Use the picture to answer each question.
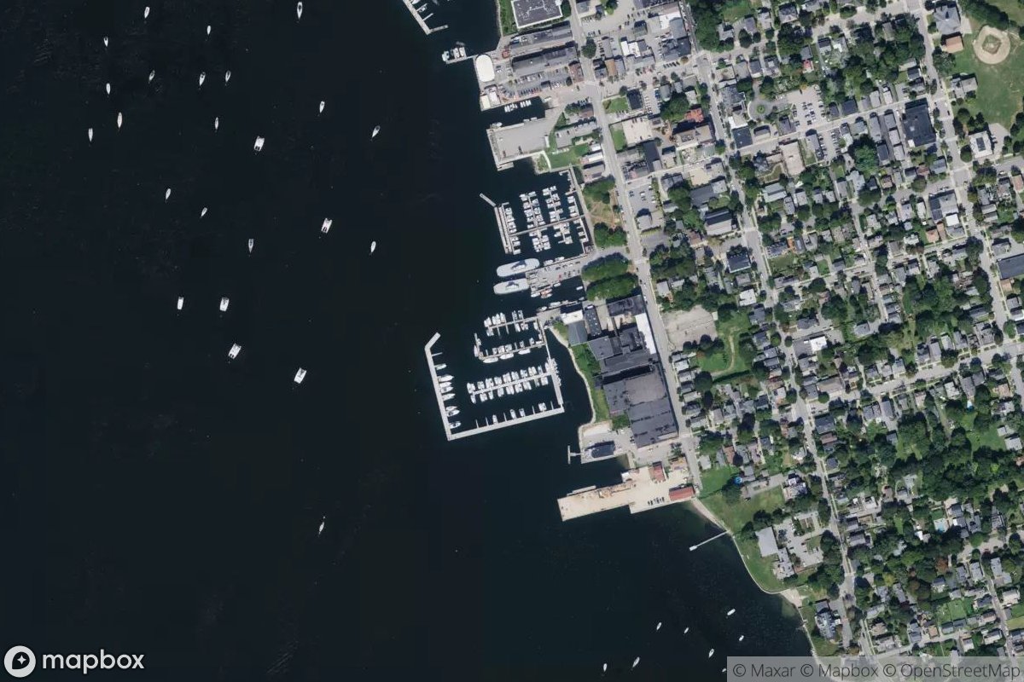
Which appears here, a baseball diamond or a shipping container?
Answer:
baseball diamond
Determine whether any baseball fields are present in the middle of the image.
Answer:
No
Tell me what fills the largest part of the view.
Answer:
water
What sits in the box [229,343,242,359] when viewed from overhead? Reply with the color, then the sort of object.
white boat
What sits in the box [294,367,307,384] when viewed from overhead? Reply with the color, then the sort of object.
white boat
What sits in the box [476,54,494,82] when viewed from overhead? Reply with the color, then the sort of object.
white tent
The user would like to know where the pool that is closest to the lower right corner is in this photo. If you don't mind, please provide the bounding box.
[933,518,949,534]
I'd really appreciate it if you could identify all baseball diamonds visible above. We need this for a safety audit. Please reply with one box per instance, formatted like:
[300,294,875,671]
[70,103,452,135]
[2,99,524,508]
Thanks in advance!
[971,25,1012,67]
